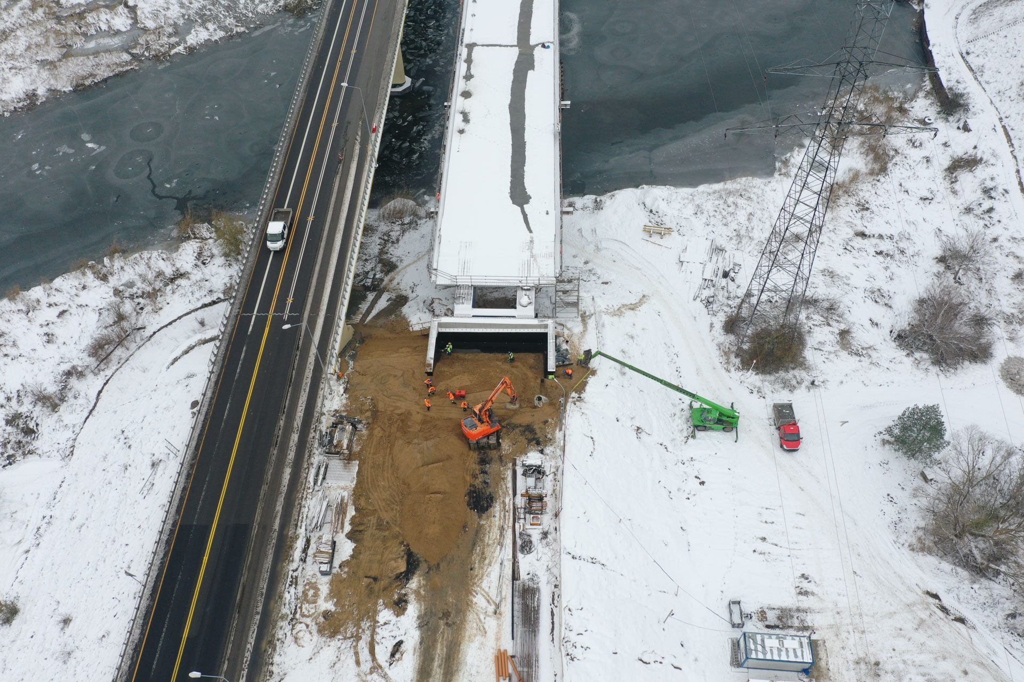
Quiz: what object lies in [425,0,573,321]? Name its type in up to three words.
bridge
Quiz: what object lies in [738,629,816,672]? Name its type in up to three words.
shipping container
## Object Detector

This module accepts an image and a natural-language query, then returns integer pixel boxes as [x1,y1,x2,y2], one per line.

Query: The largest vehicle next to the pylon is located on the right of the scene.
[576,349,747,445]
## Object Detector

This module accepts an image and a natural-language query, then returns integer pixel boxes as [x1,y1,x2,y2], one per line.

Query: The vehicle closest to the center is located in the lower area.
[463,377,519,456]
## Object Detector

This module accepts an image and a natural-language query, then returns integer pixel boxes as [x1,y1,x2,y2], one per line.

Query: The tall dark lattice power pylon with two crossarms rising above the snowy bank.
[721,0,950,354]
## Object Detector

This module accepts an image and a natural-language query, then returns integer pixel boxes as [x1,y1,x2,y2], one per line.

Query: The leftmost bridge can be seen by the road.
[225,0,409,376]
